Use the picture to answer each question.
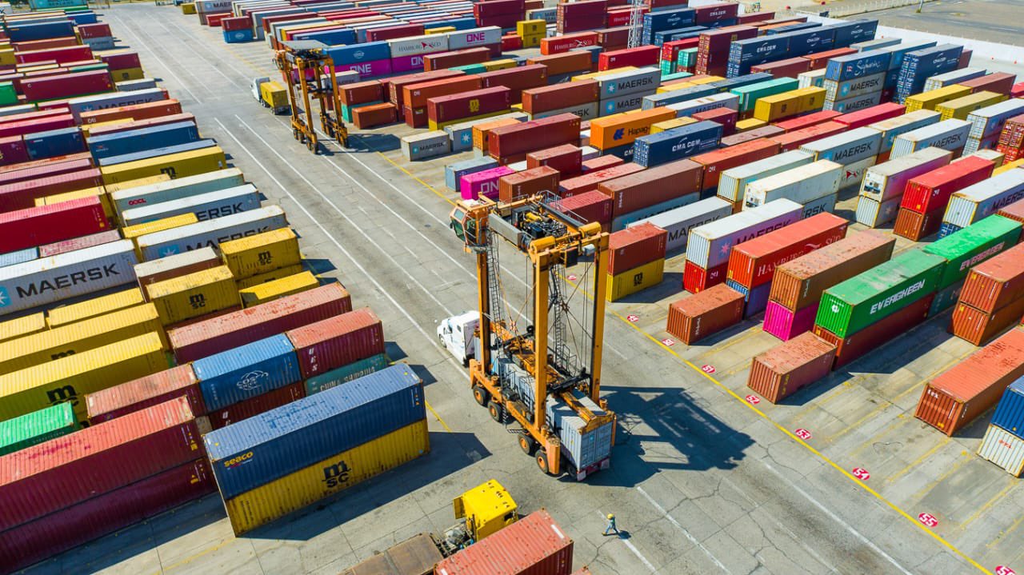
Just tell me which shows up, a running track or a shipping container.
shipping container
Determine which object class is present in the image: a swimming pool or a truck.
truck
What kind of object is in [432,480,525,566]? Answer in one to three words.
work vehicle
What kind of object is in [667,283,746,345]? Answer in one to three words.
shipping container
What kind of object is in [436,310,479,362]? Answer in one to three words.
truck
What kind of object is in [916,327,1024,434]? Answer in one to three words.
shipping container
